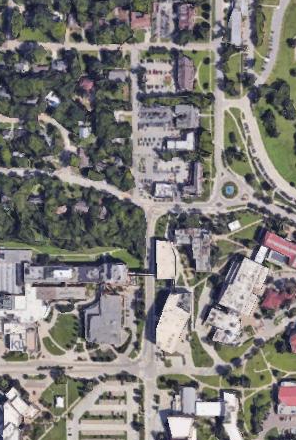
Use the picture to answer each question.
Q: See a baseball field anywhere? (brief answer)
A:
No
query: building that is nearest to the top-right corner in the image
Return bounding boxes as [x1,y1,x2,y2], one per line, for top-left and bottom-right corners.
[231,0,248,46]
